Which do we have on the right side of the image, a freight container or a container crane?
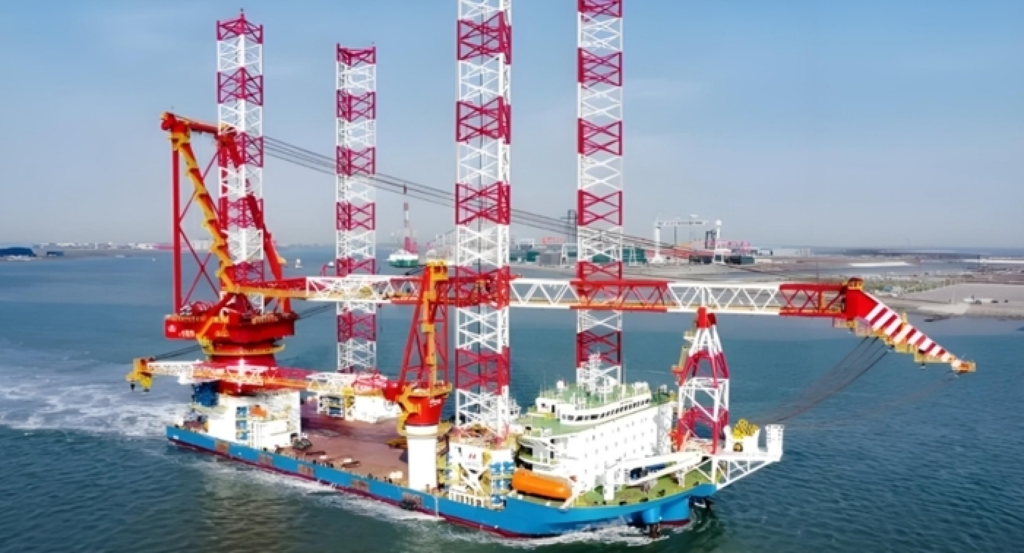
container crane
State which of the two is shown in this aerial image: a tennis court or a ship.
ship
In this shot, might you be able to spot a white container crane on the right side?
Yes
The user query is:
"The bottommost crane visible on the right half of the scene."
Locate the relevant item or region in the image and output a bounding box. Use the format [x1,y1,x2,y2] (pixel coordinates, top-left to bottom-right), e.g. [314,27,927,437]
[600,446,706,503]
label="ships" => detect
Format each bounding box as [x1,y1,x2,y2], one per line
[166,0,781,540]
[389,189,419,267]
